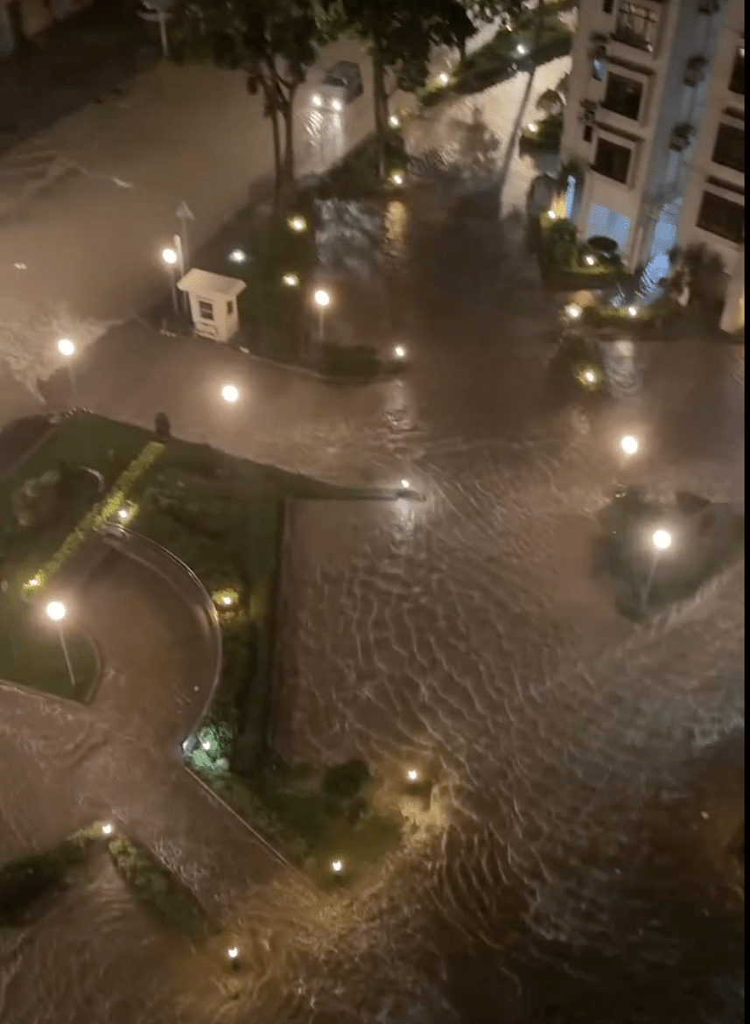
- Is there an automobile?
Yes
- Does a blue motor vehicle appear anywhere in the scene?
No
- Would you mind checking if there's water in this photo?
Yes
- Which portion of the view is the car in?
top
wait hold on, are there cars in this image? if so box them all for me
[315,66,357,115]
